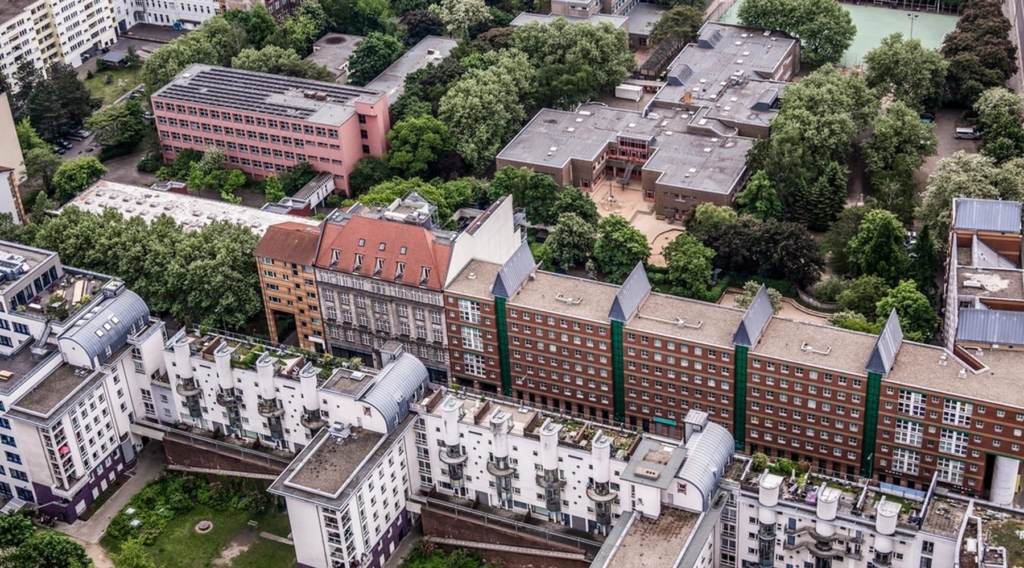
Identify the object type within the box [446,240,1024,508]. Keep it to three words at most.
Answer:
building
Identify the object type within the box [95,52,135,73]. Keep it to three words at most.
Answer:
shed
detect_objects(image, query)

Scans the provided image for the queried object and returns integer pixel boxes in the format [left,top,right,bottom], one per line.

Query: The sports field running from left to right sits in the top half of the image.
[719,0,961,73]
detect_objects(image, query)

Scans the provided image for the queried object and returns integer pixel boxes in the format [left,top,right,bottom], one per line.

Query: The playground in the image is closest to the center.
[577,170,689,272]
